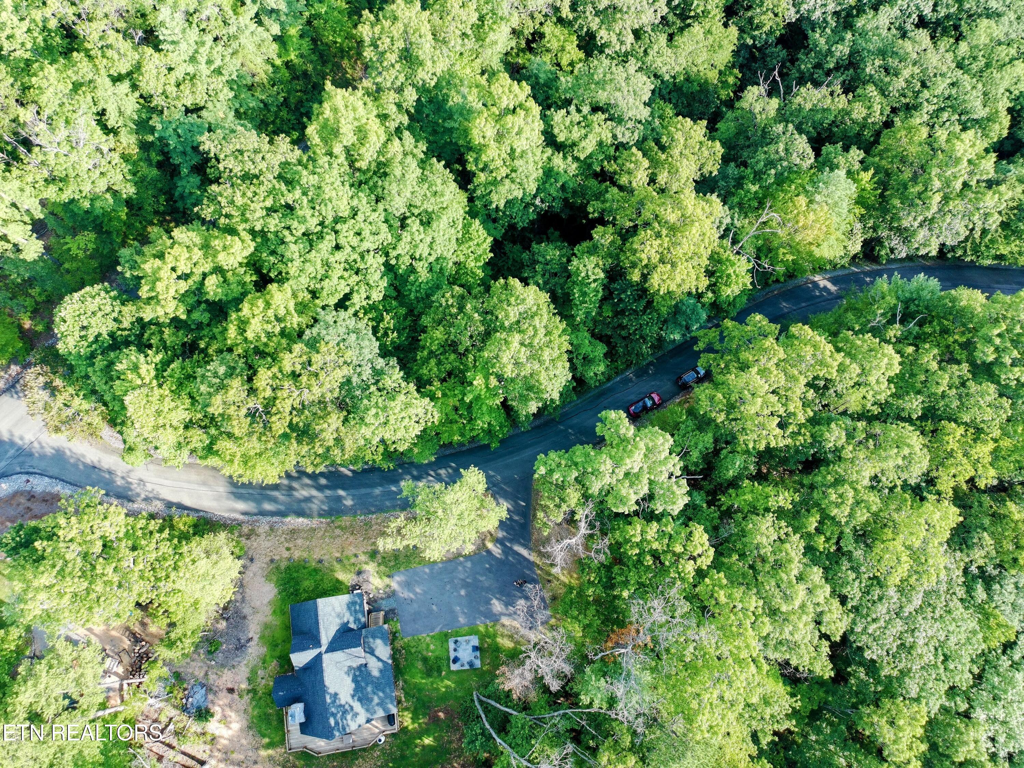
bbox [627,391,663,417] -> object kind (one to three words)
car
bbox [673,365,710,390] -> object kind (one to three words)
car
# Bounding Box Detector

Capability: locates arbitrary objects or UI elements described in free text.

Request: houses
[272,591,400,756]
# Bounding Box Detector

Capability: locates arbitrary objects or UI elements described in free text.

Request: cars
[627,391,663,417]
[673,365,710,390]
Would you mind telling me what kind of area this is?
forest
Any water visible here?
No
